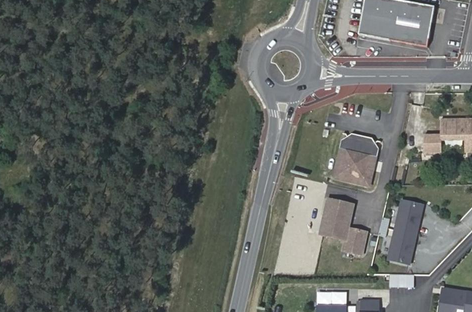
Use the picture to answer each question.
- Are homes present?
Yes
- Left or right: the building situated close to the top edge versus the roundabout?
to the right of it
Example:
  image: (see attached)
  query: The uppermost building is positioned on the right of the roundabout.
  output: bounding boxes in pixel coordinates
[358,0,435,49]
